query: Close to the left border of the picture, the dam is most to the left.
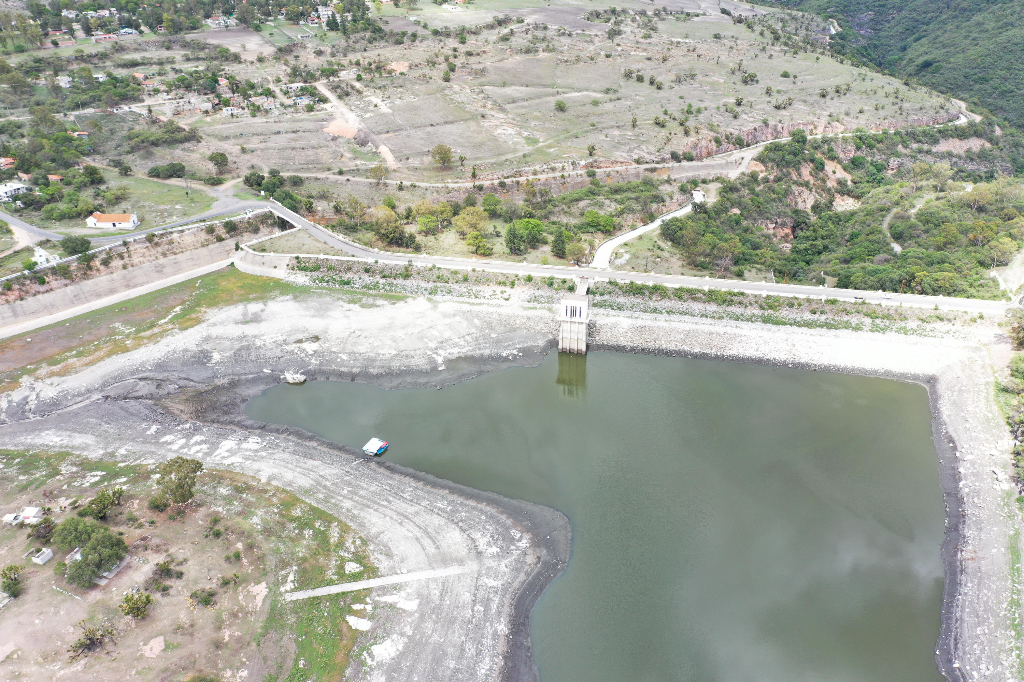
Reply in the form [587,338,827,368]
[0,260,236,341]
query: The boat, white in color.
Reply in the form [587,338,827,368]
[362,438,384,458]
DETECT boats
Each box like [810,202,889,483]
[379,442,392,455]
[362,438,384,458]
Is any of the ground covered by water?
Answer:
Yes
